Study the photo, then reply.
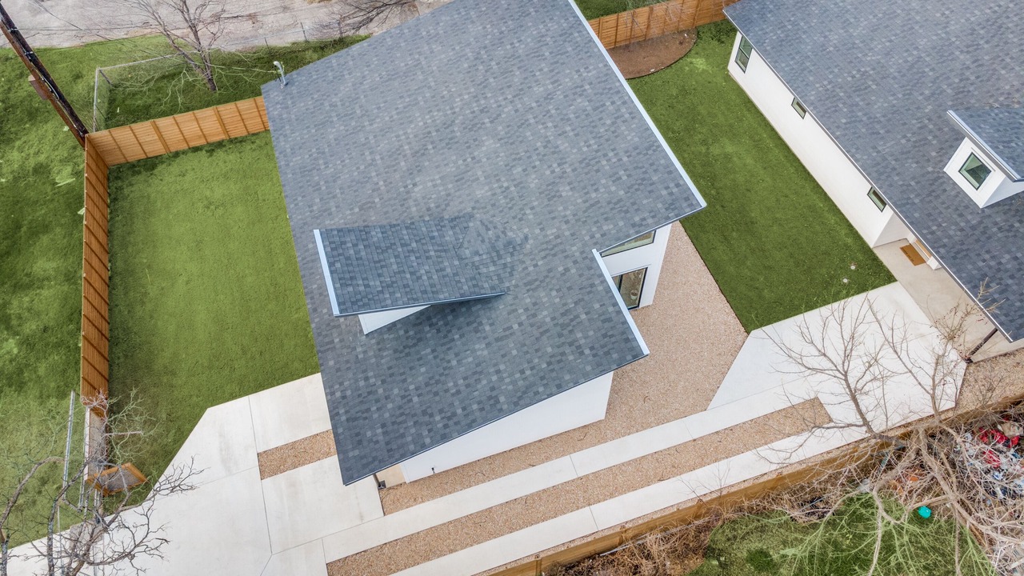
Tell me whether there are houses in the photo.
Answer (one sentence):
Yes, you can see a house in this photo.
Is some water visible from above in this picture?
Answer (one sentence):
No, the picture contains no water.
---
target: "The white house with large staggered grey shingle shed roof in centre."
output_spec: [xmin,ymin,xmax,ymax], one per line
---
[262,0,706,493]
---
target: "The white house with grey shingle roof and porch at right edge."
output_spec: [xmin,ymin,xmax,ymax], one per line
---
[723,0,1024,363]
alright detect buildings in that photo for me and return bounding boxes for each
[262,0,706,493]
[723,0,1024,363]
